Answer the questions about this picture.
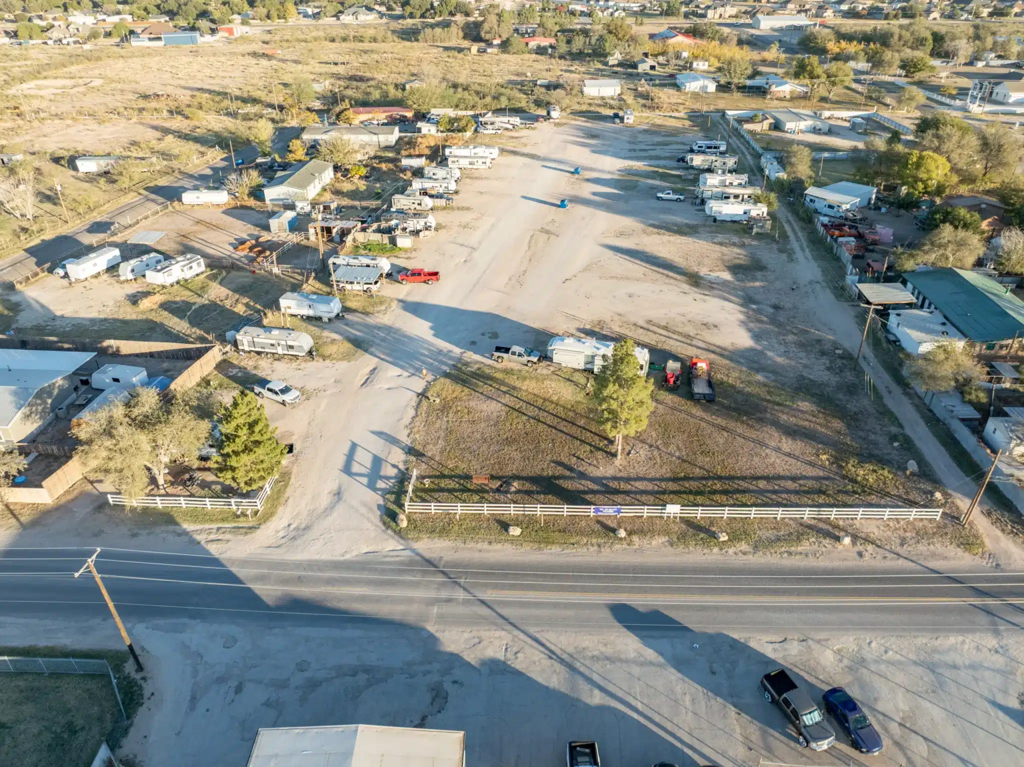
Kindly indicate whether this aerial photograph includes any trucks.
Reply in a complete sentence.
Yes, the picture does show a truck.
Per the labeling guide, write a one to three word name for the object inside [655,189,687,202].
vehicle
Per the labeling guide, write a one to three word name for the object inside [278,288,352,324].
trailer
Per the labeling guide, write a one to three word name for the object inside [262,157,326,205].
house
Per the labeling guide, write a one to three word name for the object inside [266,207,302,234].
shed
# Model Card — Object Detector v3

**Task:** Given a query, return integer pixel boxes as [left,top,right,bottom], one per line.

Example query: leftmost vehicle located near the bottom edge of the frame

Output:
[567,742,601,767]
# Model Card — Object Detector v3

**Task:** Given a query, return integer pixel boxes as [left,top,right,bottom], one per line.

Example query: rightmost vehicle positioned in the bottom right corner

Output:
[819,684,887,761]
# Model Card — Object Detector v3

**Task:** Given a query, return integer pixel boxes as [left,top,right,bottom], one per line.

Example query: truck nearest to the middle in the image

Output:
[490,343,543,366]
